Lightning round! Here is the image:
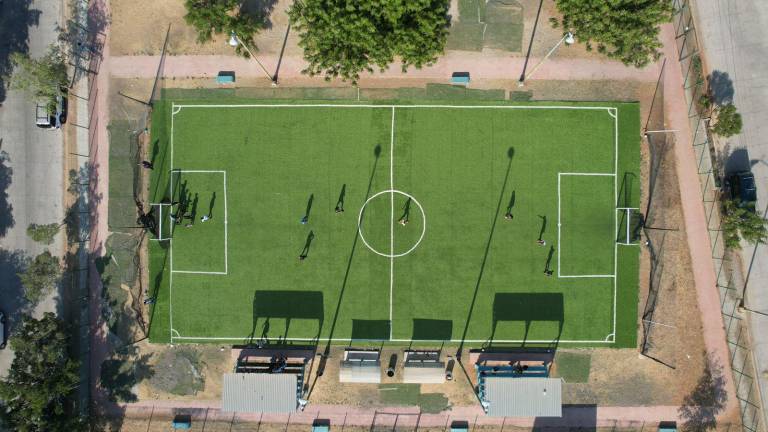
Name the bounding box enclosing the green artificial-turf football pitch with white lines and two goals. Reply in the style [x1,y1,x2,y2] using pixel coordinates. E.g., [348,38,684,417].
[148,100,640,349]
